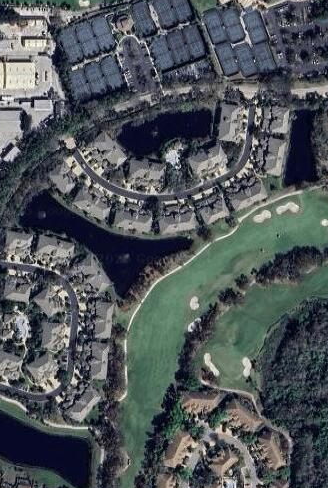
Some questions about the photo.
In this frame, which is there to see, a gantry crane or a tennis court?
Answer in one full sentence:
Visible in the photo is a tennis court.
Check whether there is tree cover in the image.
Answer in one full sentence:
Yes, there is tree cover in the image.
